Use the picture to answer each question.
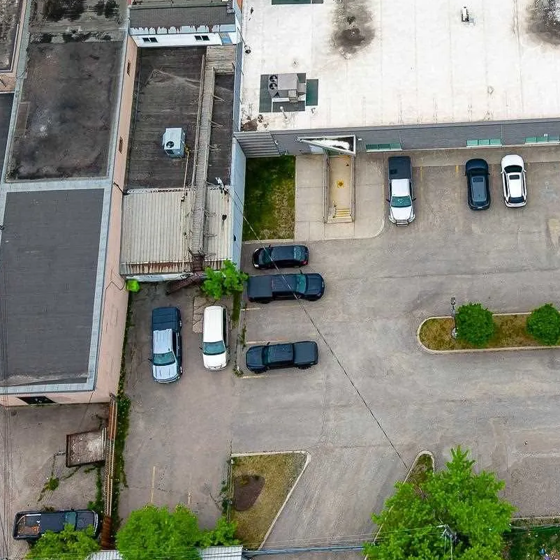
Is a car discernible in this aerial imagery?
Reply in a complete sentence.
Yes, there's a car down there.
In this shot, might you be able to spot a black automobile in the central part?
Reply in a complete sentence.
Yes, a black automobile shows up in the central part.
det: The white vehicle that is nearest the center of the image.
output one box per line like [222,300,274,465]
[198,306,229,373]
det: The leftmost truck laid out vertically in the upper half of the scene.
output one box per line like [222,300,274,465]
[386,157,415,227]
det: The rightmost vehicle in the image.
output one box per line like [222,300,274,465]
[499,155,528,210]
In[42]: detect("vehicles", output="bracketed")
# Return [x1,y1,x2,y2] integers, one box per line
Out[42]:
[386,157,415,227]
[198,306,229,373]
[499,155,528,210]
[463,159,492,214]
[148,306,183,384]
[247,272,325,305]
[12,507,100,541]
[245,341,320,372]
[253,243,310,272]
